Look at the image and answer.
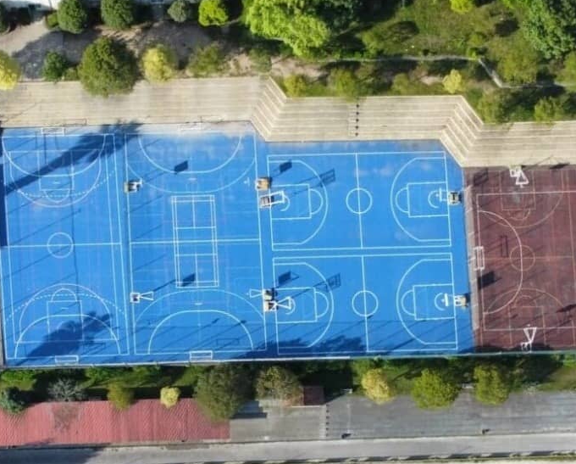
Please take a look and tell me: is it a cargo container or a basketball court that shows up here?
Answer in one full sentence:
The image shows a basketball court.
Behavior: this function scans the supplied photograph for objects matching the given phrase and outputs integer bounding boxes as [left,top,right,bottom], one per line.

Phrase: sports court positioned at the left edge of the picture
[0,126,132,366]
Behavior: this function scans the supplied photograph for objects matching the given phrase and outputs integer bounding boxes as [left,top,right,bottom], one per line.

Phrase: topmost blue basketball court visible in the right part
[262,135,468,255]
